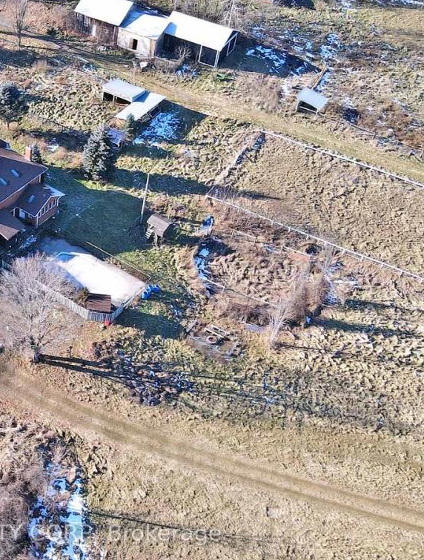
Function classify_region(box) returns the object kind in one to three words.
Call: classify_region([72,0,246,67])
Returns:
barn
